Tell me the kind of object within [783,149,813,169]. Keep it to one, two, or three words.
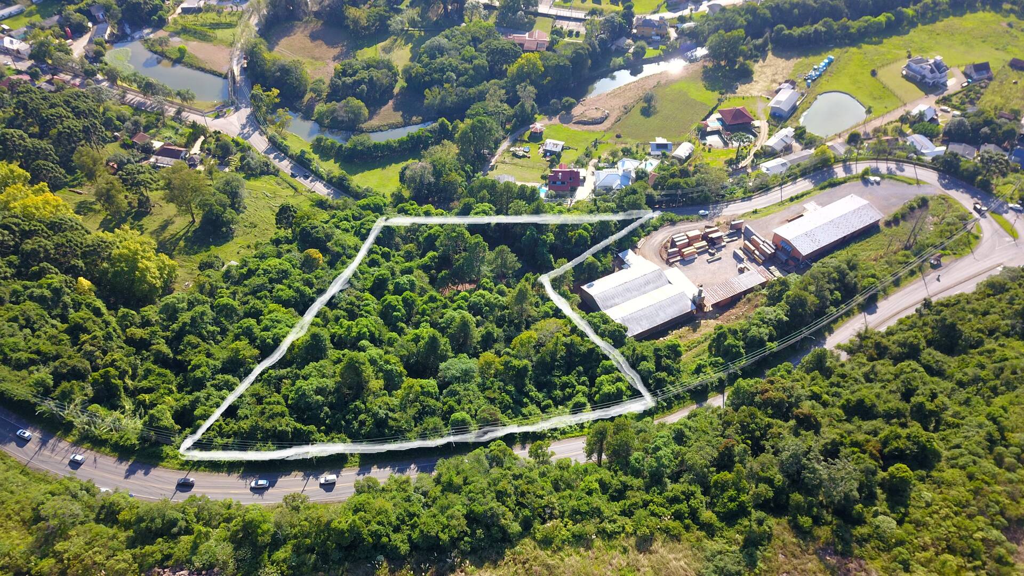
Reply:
building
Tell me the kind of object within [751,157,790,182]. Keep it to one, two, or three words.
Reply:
house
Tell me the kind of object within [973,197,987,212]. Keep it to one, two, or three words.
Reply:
vehicle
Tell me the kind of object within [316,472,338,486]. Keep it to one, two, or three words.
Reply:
vehicle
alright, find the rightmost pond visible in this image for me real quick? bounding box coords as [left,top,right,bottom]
[798,91,868,137]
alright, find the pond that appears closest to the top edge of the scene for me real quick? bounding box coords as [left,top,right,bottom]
[103,42,232,104]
